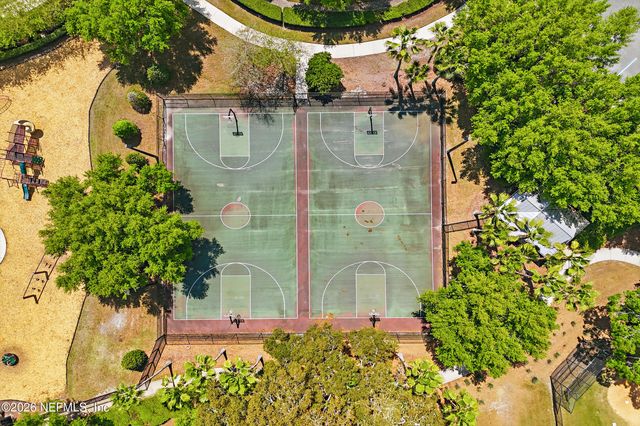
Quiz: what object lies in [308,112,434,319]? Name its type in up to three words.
basketball court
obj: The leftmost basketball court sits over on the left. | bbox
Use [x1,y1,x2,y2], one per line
[173,112,298,320]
